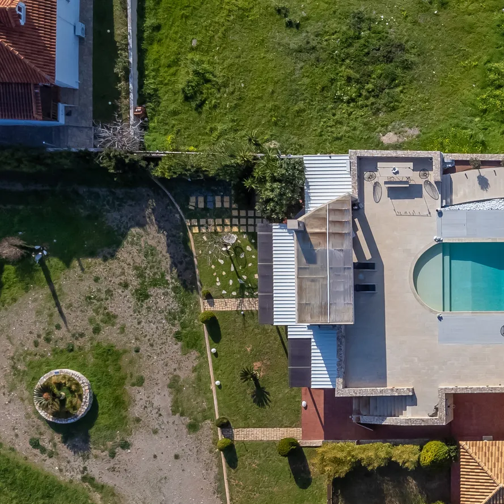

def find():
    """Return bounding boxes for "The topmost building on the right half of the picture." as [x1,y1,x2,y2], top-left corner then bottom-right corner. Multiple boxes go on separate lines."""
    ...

[284,194,363,325]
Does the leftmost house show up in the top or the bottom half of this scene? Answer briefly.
top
